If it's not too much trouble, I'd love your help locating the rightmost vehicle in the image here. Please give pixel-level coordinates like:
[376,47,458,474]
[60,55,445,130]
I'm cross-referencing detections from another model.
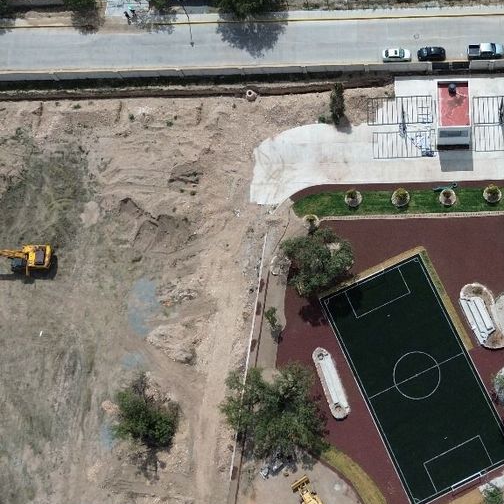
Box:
[466,42,504,60]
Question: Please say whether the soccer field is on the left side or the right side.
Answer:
right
